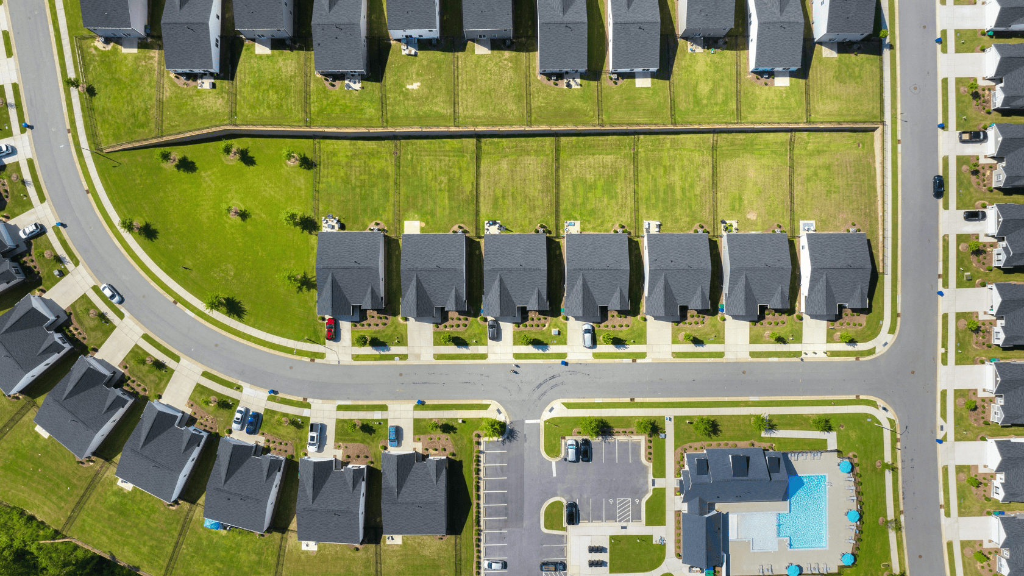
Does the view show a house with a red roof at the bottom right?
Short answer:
No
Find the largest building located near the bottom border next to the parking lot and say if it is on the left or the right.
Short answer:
right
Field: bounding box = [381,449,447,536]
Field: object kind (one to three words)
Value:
house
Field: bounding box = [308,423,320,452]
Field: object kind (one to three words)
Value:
vehicle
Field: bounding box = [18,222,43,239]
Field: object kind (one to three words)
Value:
car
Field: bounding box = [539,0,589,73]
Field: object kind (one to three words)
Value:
house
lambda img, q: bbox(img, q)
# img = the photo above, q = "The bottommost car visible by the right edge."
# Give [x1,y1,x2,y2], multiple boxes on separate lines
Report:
[963,210,986,222]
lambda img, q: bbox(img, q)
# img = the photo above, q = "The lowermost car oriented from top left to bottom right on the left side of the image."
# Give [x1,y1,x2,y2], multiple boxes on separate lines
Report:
[101,282,123,305]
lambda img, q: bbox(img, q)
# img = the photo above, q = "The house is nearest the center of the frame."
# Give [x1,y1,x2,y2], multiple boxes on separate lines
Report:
[483,233,548,317]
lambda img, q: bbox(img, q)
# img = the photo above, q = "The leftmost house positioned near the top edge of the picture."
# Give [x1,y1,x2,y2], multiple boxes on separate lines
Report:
[78,0,146,38]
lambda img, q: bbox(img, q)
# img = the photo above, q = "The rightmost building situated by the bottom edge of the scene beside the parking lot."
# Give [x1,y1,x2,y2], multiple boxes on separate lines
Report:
[673,445,789,571]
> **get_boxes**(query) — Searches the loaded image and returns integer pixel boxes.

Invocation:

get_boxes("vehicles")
[326,317,336,341]
[958,130,987,142]
[963,210,986,222]
[308,423,320,452]
[488,319,497,340]
[232,406,247,430]
[18,222,43,239]
[541,561,565,573]
[245,410,259,434]
[566,439,578,462]
[101,282,123,305]
[567,501,577,525]
[387,425,398,447]
[580,438,592,462]
[932,175,945,199]
[582,323,594,347]
[0,143,14,156]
